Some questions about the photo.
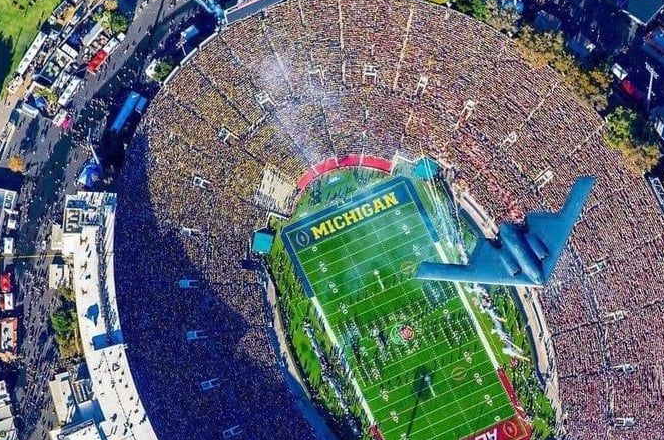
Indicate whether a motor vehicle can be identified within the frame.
Yes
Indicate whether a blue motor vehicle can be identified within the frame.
Yes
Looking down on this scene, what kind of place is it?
sports ground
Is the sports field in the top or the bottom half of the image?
bottom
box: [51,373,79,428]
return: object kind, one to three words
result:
building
